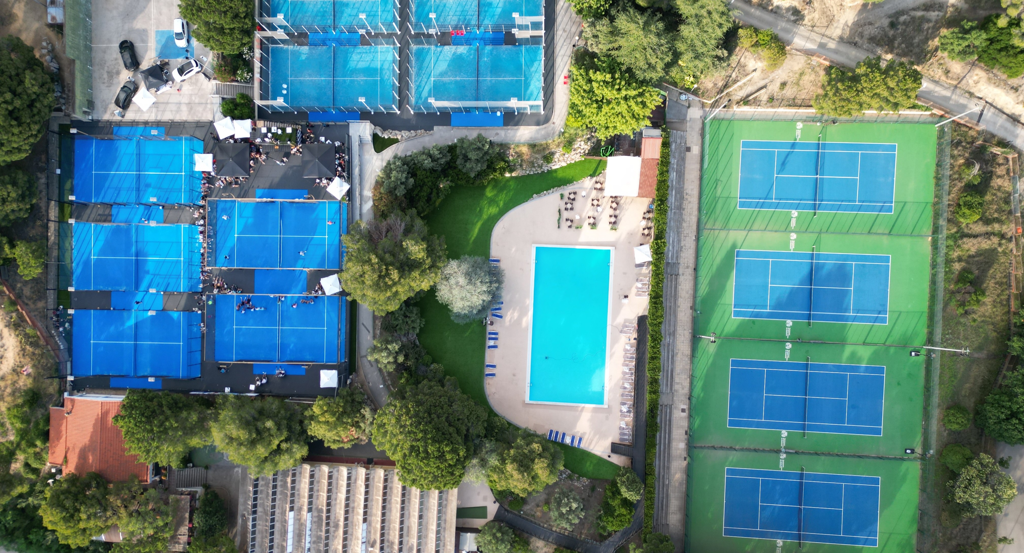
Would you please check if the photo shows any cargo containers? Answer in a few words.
No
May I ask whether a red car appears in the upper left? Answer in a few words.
No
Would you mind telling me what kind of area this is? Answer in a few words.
sports ground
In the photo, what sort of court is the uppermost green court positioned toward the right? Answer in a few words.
tennis court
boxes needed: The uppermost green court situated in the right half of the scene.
[700,120,937,235]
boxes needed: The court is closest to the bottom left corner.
[54,310,202,382]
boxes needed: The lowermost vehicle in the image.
[113,80,134,109]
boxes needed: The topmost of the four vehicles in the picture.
[171,16,188,47]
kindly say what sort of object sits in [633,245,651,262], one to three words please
umbrella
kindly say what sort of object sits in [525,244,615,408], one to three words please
swimming pool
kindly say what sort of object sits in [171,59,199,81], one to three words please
car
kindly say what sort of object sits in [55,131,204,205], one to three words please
sports court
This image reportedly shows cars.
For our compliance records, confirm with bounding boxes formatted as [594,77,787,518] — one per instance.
[113,80,134,109]
[171,59,199,81]
[117,39,137,70]
[171,16,188,47]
